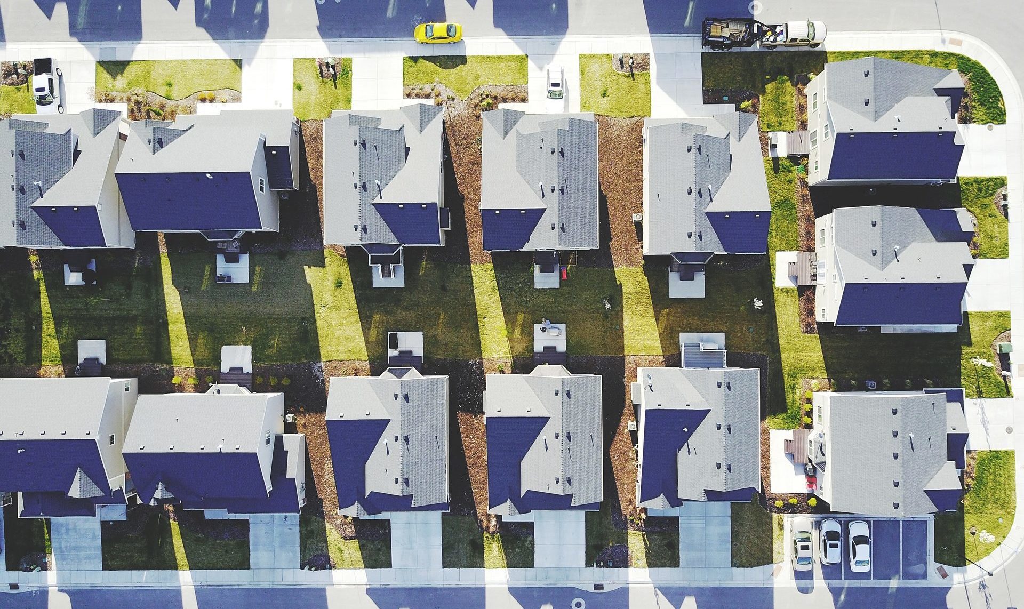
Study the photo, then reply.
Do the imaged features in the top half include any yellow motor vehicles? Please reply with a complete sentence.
Yes, I can see a yellow motor vehicle in the top half.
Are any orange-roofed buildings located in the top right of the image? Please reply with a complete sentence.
No, looking in the top right of the image, there is no orange-roofed building.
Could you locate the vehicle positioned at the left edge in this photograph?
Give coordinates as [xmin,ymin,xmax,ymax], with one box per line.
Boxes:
[32,54,65,112]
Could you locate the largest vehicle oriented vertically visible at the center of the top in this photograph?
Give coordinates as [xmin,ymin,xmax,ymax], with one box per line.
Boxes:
[544,63,568,113]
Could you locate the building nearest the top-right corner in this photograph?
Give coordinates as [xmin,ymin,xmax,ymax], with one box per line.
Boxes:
[809,56,965,185]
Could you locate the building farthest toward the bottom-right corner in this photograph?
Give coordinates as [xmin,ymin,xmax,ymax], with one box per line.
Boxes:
[799,387,978,520]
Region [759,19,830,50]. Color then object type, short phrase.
white truck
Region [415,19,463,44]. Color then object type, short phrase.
yellow car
